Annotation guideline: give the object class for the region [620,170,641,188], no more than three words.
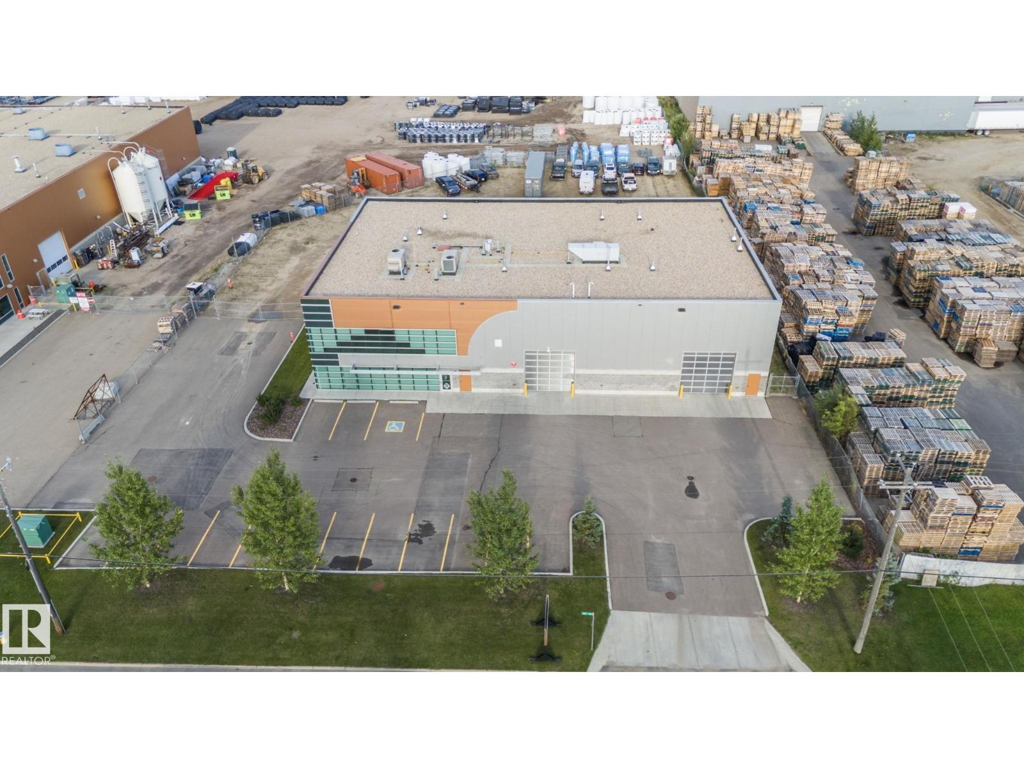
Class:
vehicle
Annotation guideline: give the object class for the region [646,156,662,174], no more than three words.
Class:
car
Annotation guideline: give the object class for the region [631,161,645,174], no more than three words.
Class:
vehicle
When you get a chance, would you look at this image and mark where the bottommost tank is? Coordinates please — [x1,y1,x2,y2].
[221,227,263,256]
